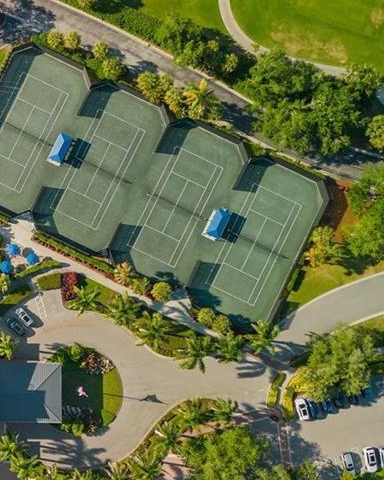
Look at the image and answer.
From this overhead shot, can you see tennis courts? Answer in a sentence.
Yes, a tennis court appears in the view.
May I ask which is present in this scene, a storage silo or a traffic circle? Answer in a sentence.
Of the two, only a traffic circle appears.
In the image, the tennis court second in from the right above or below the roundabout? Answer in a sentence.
The tennis court second in from the right is located above the roundabout in this view.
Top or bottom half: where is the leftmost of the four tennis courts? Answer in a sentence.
It is in the top half that the leftmost of the four tennis courts appears.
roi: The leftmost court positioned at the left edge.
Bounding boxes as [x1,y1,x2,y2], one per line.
[0,47,90,215]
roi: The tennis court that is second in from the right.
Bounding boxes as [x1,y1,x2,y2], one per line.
[111,120,247,288]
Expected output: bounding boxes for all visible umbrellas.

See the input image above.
[0,259,13,272]
[7,243,20,257]
[26,252,39,265]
